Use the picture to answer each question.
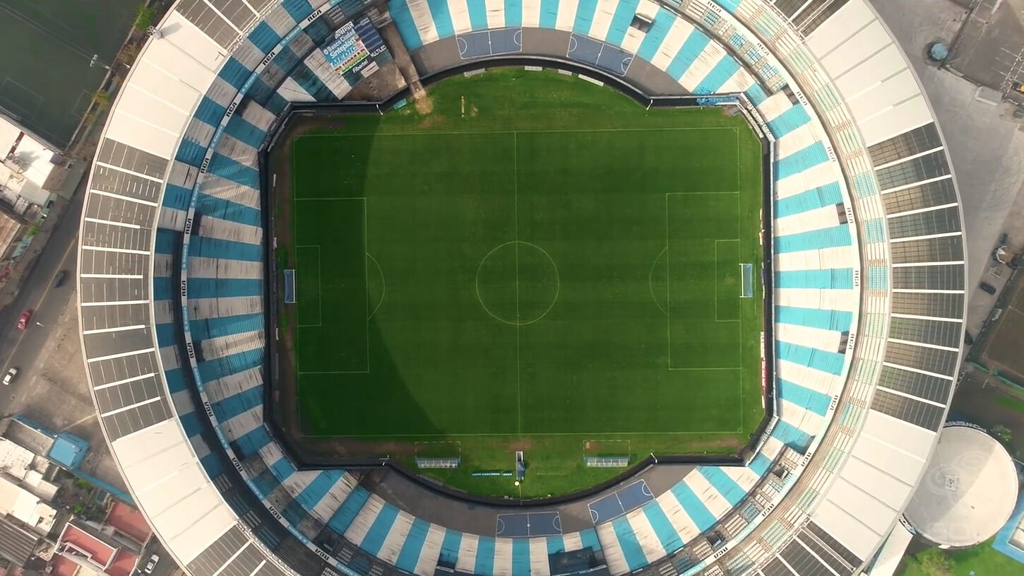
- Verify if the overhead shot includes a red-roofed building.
Yes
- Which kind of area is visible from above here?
sports ground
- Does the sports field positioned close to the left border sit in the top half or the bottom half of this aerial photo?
top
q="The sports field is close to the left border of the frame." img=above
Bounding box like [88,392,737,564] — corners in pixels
[0,0,144,146]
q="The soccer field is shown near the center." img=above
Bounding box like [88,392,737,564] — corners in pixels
[273,67,764,499]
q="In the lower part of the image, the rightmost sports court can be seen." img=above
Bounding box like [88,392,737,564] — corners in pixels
[588,479,654,525]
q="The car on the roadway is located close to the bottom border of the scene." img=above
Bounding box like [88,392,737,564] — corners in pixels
[144,554,158,574]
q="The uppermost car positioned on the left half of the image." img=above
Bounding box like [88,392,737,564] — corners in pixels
[52,269,67,287]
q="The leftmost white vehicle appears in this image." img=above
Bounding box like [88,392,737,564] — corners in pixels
[1,366,16,385]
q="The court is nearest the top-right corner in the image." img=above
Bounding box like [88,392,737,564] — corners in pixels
[568,34,633,76]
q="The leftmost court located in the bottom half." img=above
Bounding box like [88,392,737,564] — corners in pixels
[497,512,561,537]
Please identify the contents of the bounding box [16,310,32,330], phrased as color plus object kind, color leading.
red car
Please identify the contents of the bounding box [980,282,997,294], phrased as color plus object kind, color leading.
black vehicle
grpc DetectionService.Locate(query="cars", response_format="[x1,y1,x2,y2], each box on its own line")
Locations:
[16,310,32,330]
[1,366,16,385]
[144,554,158,574]
[992,307,1004,321]
[999,233,1012,245]
[980,282,997,294]
[52,269,67,287]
